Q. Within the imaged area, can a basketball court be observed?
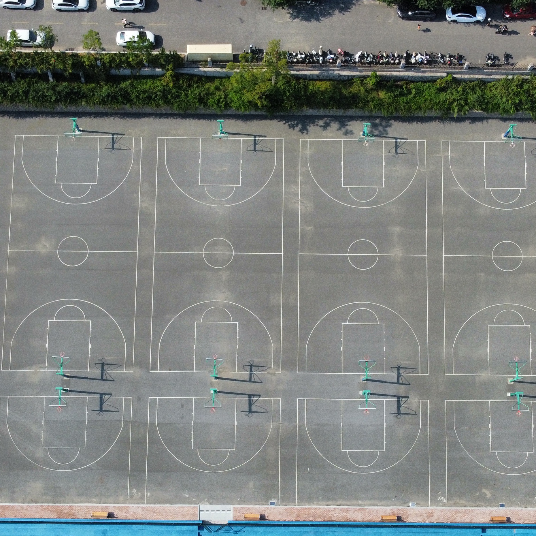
Yes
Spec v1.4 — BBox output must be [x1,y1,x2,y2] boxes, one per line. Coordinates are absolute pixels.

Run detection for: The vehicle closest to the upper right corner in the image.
[502,2,536,23]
